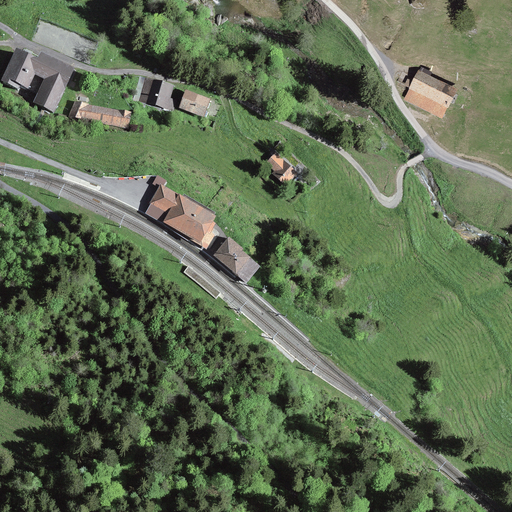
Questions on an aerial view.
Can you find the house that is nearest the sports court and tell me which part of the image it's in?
top left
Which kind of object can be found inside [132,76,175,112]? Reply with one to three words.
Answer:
house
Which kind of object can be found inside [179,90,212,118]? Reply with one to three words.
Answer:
house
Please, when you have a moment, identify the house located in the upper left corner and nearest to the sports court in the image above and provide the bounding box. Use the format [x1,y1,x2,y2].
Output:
[3,48,74,114]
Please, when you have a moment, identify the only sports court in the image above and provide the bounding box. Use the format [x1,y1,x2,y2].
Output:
[32,20,96,64]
